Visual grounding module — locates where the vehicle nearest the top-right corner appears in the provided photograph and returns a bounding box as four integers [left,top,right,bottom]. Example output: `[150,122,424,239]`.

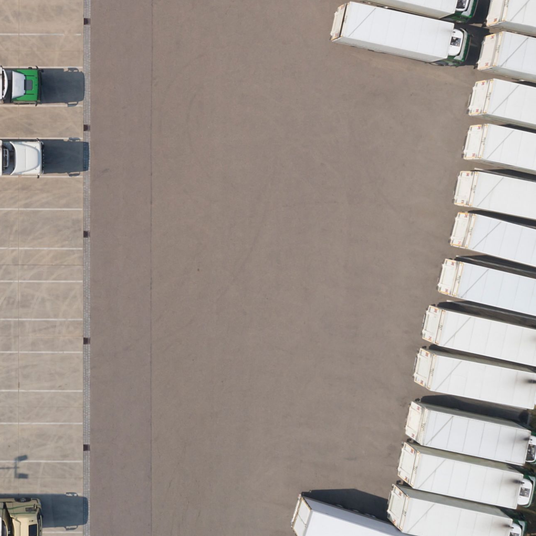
[481,0,536,37]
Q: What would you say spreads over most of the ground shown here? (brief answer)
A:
paved ground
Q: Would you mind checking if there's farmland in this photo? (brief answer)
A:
No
